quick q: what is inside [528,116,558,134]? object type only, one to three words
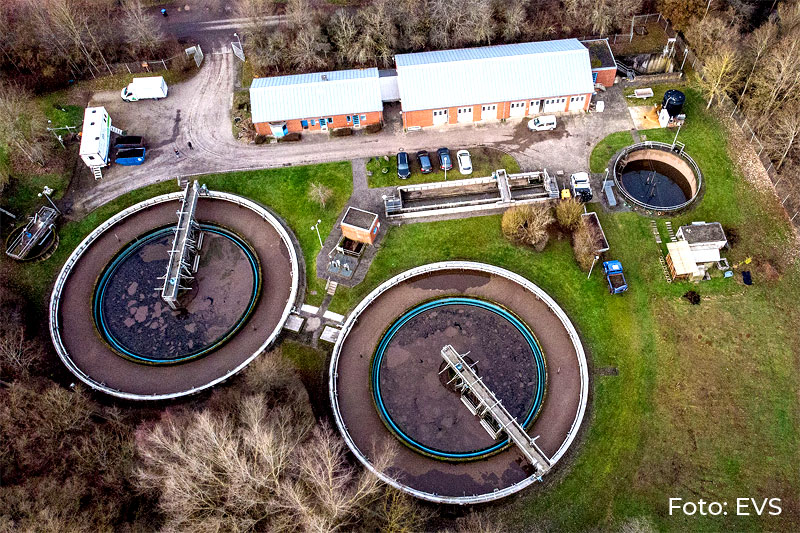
vehicle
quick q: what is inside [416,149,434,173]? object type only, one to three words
car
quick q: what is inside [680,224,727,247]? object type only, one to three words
shed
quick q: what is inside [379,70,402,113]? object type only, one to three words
building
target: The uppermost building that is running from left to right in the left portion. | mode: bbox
[249,68,383,141]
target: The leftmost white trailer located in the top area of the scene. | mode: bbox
[80,106,125,182]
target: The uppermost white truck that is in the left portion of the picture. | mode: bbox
[121,77,168,103]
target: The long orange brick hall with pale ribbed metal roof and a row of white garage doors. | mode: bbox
[396,38,595,129]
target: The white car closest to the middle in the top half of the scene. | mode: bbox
[457,150,473,174]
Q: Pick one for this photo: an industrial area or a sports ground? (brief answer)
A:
industrial area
